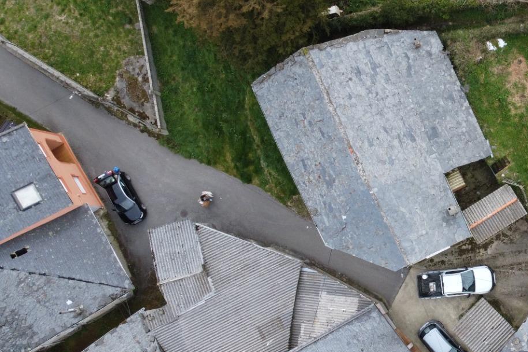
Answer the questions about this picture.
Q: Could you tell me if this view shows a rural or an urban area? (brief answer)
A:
urban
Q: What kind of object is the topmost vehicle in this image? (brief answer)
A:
automobile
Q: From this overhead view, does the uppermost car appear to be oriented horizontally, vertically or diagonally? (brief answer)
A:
diagonally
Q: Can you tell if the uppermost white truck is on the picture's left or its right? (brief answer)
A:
right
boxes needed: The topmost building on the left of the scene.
[0,120,107,258]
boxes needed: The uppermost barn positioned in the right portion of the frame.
[249,25,493,271]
